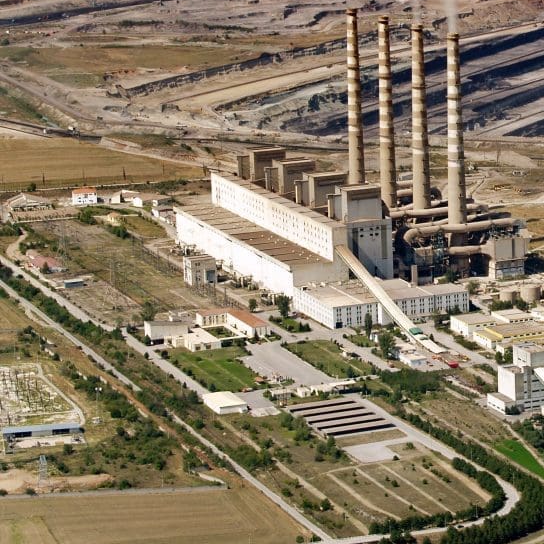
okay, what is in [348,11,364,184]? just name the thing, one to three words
chimney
